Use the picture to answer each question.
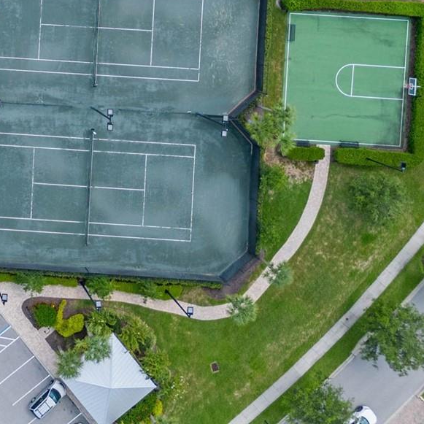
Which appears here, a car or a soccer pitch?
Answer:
car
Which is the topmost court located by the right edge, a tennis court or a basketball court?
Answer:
basketball court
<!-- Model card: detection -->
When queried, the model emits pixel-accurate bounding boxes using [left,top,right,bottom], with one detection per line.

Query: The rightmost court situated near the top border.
[282,11,411,148]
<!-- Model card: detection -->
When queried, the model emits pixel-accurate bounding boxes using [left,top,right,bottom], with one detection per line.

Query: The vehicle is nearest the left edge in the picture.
[28,383,67,422]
